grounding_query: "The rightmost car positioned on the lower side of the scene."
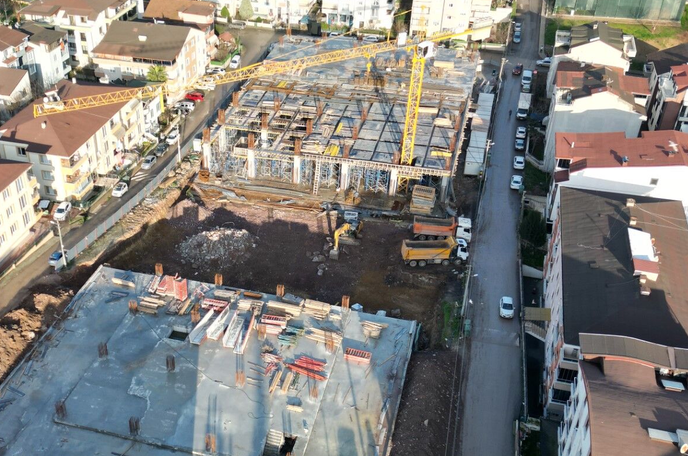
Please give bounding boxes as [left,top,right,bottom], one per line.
[499,292,516,318]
